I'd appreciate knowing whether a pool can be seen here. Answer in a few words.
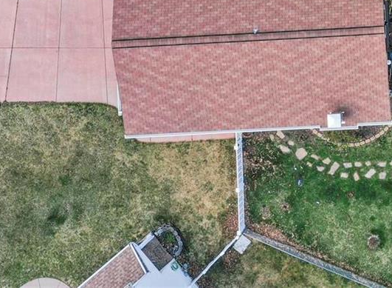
No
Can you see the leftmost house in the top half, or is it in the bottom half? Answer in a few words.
bottom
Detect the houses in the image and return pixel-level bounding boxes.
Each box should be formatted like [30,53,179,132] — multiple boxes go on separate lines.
[75,232,201,288]
[111,0,392,141]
